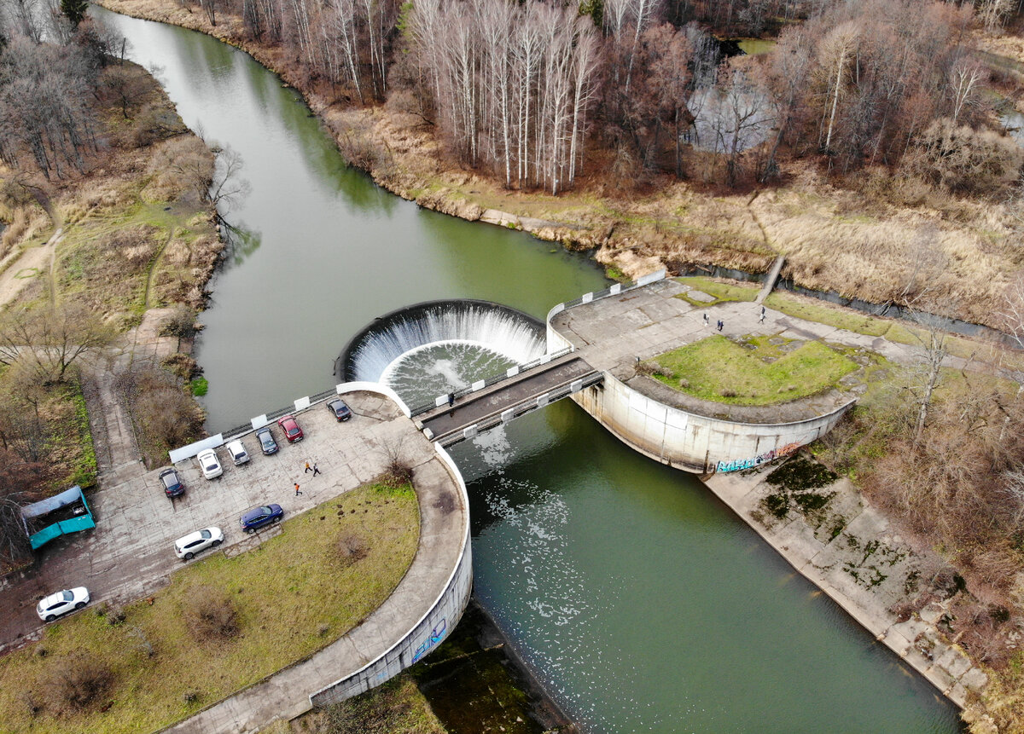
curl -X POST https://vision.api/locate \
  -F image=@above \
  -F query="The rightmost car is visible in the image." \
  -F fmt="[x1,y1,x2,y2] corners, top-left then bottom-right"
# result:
[325,396,353,418]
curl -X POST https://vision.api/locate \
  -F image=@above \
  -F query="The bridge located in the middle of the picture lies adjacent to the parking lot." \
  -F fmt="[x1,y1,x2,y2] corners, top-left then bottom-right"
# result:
[401,350,605,452]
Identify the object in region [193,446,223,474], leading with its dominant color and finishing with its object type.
white car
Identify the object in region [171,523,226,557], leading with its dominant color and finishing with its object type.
white car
